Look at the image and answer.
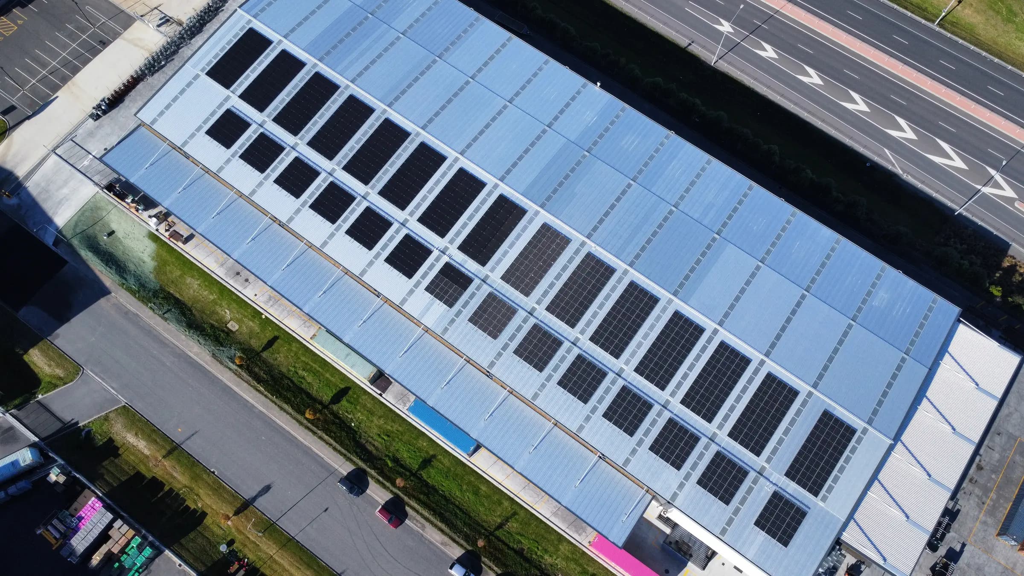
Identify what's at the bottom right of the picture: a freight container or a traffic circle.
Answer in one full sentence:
Looking at the bottom right of the picture, you will find a freight container.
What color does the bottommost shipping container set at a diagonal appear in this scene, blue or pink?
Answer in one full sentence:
In this view, the bottommost shipping container set at a diagonal is pink.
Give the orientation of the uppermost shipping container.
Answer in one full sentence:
The uppermost shipping container is laid out diagonally.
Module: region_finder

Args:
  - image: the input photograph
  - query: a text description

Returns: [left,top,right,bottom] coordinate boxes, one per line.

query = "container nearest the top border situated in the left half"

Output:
[311,328,379,383]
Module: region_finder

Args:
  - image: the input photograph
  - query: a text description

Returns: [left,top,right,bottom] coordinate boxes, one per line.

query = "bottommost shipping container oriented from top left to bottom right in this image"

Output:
[588,534,657,576]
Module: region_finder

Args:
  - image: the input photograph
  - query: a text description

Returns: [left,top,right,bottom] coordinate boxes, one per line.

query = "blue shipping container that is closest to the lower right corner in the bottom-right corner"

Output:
[996,476,1024,545]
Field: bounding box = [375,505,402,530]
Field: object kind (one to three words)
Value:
car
